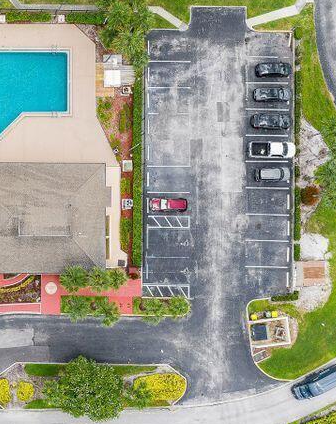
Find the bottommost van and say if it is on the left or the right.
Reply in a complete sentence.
The bottommost van appears in the right half of the scene.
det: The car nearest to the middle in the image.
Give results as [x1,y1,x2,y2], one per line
[149,195,187,214]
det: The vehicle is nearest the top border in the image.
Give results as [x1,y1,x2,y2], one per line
[253,61,290,79]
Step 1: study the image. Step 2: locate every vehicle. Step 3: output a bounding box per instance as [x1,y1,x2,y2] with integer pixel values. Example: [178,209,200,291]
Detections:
[253,61,290,79]
[250,112,290,130]
[254,165,289,183]
[293,362,336,396]
[252,84,289,102]
[149,195,187,214]
[248,140,296,159]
